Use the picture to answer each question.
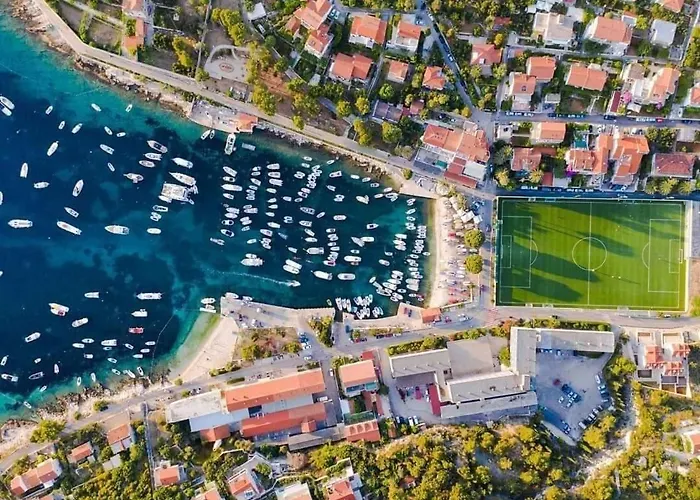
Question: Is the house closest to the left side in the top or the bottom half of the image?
bottom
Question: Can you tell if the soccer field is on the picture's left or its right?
right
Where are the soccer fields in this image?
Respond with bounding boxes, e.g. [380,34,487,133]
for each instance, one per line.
[497,198,687,311]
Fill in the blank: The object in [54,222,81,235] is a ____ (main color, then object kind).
white boat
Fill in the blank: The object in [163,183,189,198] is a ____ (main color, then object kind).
white boat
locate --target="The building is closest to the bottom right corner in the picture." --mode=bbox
[658,356,688,384]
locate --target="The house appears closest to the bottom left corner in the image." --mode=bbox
[6,454,69,494]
